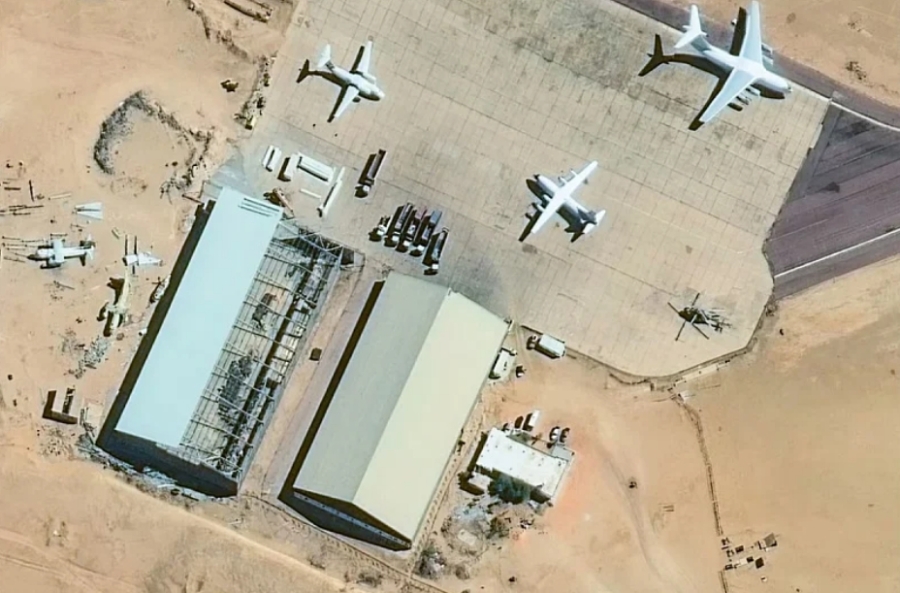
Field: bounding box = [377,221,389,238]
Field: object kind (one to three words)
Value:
vehicle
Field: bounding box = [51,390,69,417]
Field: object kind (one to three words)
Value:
shed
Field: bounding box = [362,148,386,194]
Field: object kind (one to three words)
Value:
truck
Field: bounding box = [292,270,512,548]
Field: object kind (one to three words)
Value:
hangar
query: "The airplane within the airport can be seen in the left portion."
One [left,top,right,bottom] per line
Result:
[317,41,383,118]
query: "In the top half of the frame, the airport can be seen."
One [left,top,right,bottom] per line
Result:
[196,0,900,385]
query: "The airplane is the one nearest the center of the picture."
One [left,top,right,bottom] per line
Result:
[528,158,606,237]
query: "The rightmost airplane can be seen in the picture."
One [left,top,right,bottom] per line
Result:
[675,0,792,119]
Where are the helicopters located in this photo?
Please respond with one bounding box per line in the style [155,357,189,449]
[679,285,735,332]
